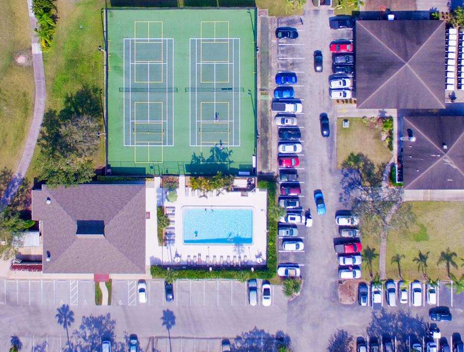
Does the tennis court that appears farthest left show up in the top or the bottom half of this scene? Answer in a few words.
top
